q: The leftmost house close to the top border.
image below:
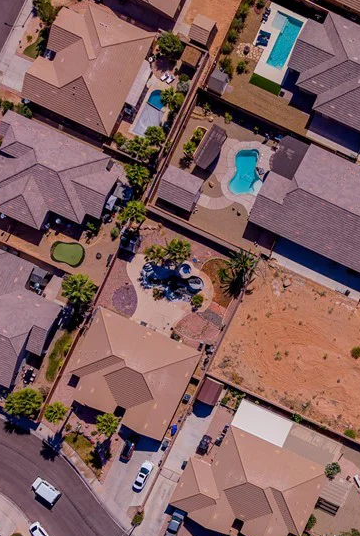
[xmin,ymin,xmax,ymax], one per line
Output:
[21,4,155,137]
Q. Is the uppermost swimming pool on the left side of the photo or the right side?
right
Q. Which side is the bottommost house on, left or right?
right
